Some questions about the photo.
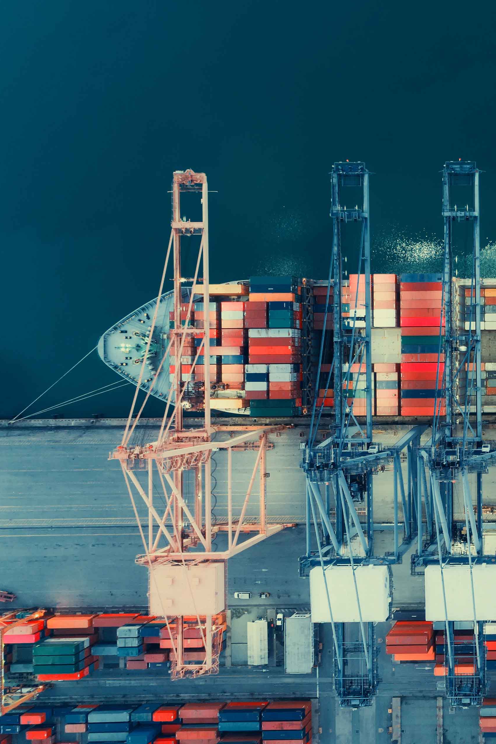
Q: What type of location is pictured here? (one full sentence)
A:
The picture captures a port.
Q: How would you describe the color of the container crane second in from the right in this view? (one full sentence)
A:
In this view, the container crane second in from the right is blue.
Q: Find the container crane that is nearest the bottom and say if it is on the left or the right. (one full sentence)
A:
The container crane that is nearest the bottom sits on the left side.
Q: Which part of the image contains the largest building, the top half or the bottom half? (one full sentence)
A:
The bottom half of the photo is where the largest building is.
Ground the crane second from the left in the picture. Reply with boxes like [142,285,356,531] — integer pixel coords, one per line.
[107,165,308,686]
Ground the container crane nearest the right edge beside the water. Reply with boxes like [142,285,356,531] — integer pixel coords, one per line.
[408,156,496,709]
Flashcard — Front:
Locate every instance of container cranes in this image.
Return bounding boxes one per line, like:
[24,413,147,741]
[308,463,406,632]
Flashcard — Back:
[298,157,436,709]
[107,165,308,686]
[408,156,496,709]
[0,607,55,715]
